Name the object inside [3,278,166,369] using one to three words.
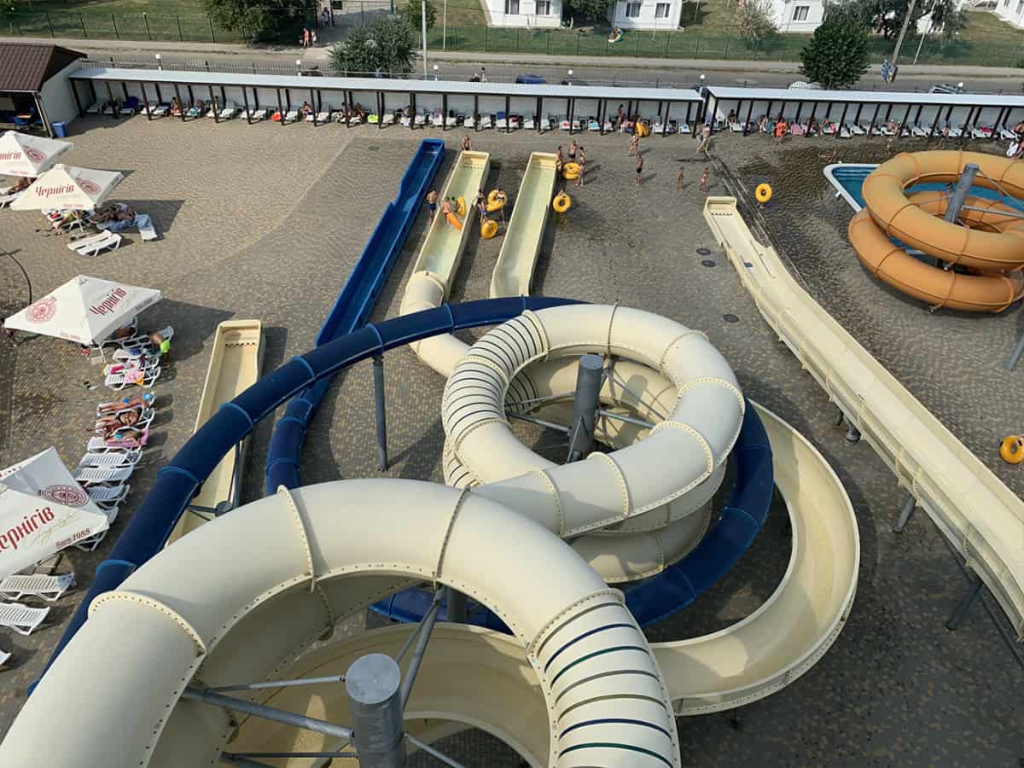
umbrella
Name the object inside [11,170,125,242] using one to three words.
umbrella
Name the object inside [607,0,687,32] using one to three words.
house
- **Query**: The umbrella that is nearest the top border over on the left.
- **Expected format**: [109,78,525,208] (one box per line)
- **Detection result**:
[0,140,73,194]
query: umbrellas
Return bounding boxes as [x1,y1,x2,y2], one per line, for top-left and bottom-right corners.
[11,170,125,242]
[0,448,113,598]
[0,140,73,194]
[3,278,166,369]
